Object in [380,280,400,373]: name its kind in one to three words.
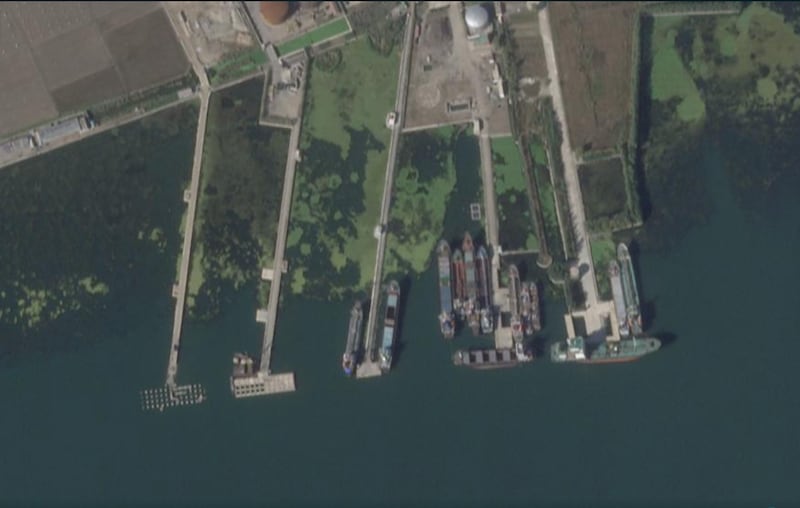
ship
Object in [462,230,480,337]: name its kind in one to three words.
ship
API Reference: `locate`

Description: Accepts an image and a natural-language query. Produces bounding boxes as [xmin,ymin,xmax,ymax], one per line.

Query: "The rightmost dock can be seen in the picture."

[565,300,619,338]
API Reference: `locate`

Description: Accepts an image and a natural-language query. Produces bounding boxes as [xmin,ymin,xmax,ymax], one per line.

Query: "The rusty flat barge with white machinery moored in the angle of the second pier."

[234,351,253,377]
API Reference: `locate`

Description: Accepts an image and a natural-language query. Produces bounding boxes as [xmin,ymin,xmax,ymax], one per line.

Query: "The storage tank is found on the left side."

[259,0,290,28]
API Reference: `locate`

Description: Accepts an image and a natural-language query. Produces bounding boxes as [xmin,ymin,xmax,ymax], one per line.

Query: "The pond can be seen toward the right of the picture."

[579,157,628,221]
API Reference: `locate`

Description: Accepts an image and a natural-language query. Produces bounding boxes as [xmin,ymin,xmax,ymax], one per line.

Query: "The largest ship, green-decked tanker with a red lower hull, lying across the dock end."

[549,332,662,361]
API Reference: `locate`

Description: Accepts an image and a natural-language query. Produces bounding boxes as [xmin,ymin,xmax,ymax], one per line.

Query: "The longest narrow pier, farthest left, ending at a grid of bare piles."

[168,90,209,386]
